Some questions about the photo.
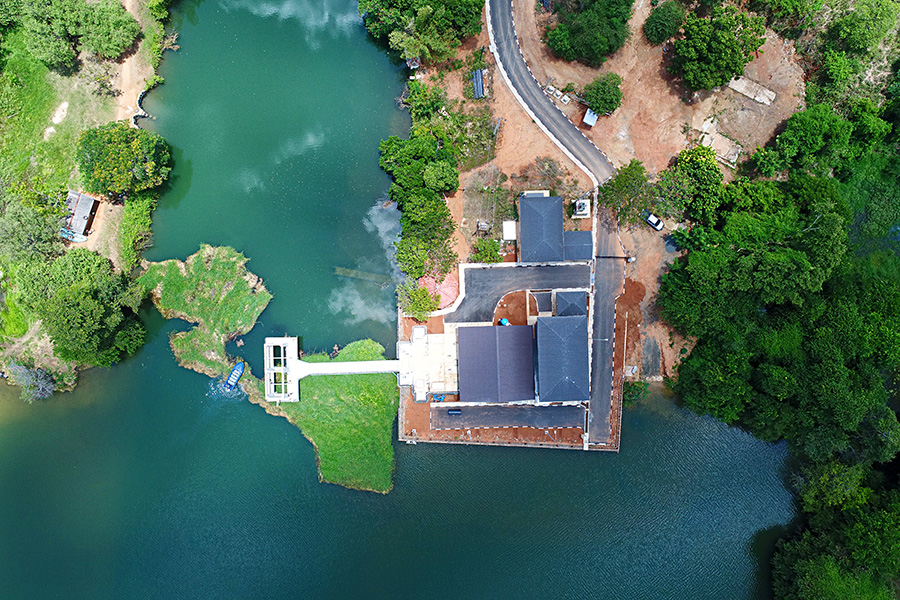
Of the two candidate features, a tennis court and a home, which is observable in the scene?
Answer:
home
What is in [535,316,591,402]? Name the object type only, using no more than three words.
house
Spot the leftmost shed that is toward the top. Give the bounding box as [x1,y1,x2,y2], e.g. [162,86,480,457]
[61,192,102,236]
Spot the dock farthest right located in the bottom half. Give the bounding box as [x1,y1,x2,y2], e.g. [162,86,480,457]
[263,337,299,407]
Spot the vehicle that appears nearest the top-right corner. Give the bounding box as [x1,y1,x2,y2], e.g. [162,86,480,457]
[641,211,664,230]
